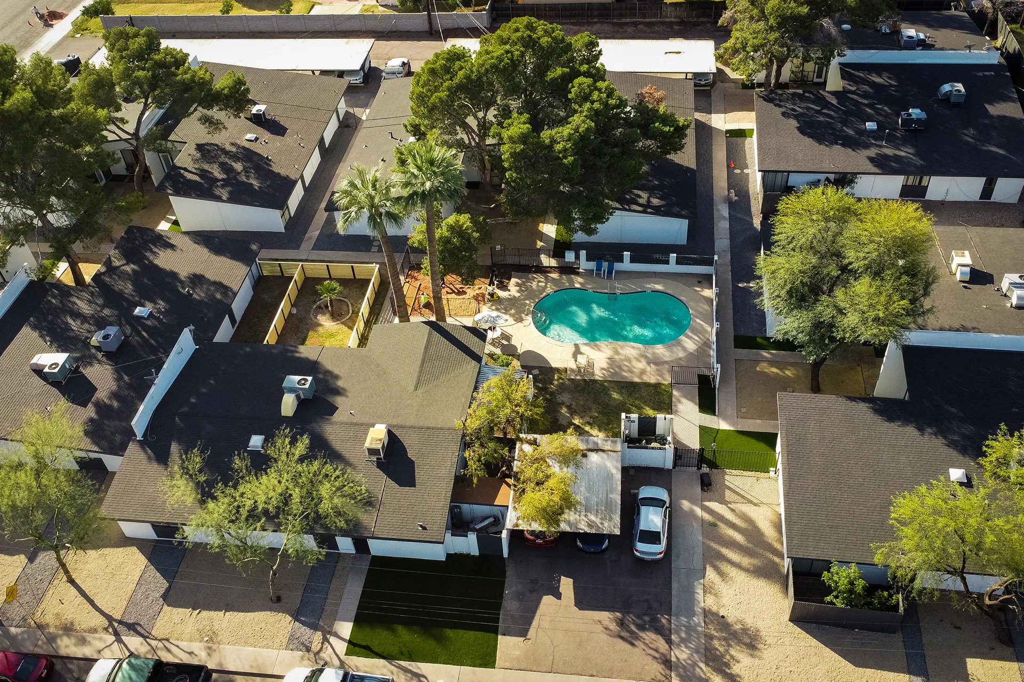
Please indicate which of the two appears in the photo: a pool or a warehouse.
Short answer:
pool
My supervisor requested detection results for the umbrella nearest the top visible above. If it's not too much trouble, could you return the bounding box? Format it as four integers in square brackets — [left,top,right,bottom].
[472,308,508,329]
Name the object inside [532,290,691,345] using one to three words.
swimming pool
